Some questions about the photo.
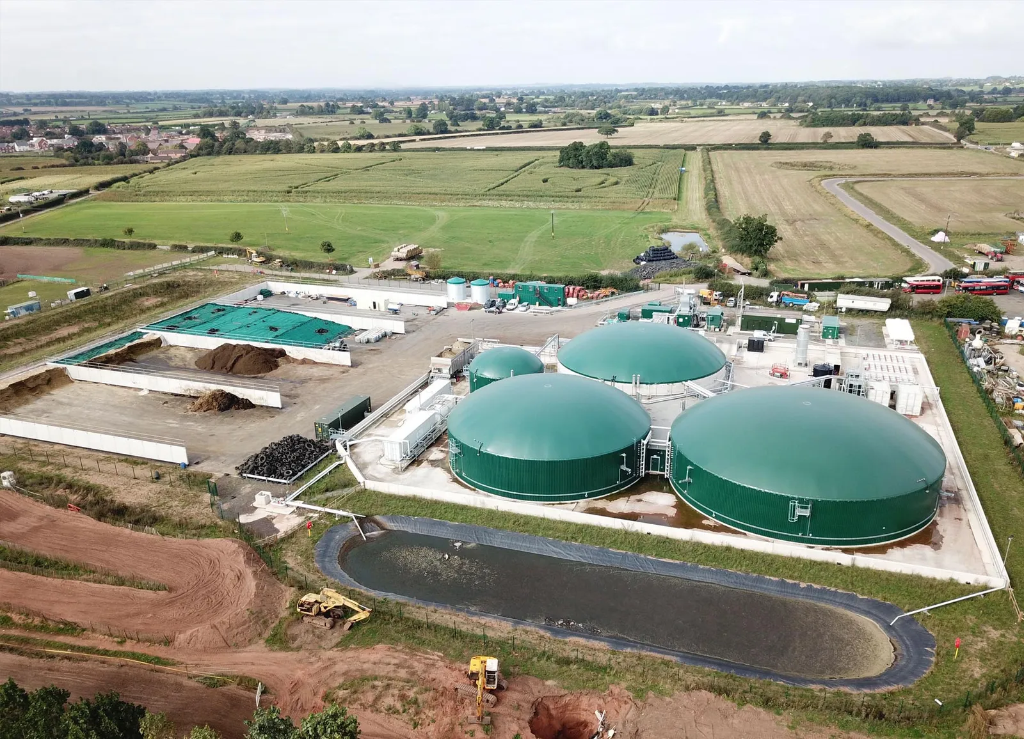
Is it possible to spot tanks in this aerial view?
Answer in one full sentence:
Yes, there is a tank in the image.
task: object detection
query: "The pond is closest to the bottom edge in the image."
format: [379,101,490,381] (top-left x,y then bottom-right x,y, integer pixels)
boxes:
[309,513,942,696]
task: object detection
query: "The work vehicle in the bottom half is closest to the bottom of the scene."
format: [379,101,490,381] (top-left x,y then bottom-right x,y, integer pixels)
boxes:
[460,660,509,724]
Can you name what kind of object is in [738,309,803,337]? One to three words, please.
building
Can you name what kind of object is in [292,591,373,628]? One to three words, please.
work vehicle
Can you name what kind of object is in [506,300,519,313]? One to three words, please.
vehicle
